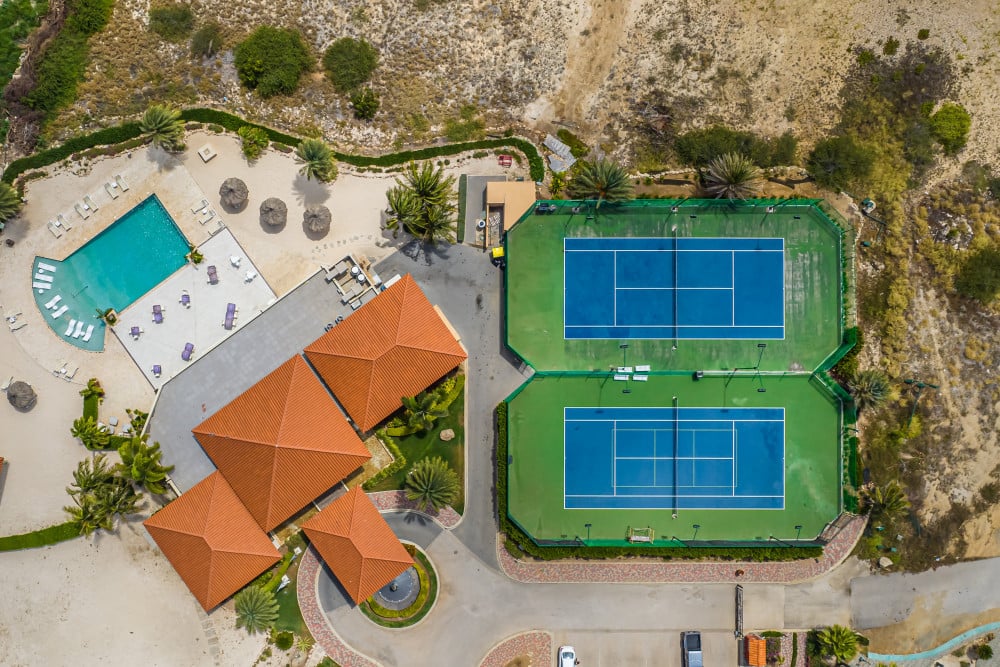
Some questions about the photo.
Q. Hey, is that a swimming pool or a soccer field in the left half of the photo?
swimming pool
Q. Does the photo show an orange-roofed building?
Yes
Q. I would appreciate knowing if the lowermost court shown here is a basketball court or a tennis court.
tennis court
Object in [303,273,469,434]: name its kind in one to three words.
building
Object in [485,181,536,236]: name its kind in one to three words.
building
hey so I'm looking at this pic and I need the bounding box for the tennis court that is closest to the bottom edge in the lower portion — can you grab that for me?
[511,373,841,540]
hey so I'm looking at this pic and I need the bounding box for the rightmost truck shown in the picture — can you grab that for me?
[682,630,704,667]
